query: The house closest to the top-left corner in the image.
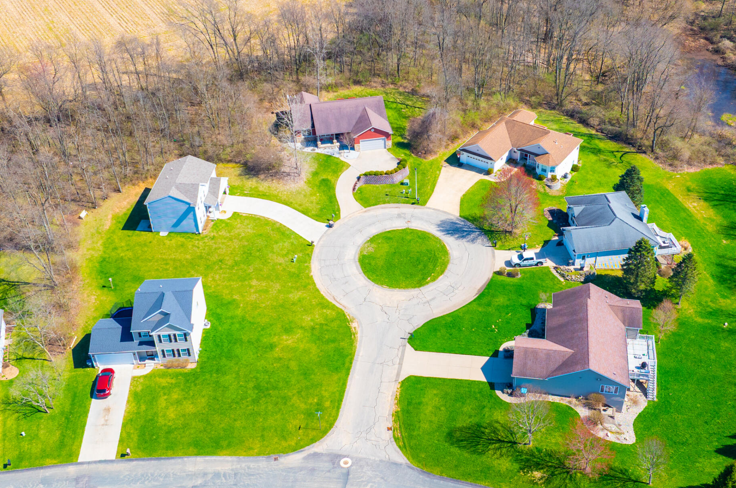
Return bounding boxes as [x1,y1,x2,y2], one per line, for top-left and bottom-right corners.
[137,154,227,236]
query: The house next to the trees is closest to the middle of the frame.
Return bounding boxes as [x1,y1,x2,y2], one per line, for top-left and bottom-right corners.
[289,91,392,151]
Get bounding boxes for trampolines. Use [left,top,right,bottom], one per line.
[108,298,133,318]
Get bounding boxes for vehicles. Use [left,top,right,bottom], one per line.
[93,368,113,397]
[509,250,549,268]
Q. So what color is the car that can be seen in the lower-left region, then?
red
